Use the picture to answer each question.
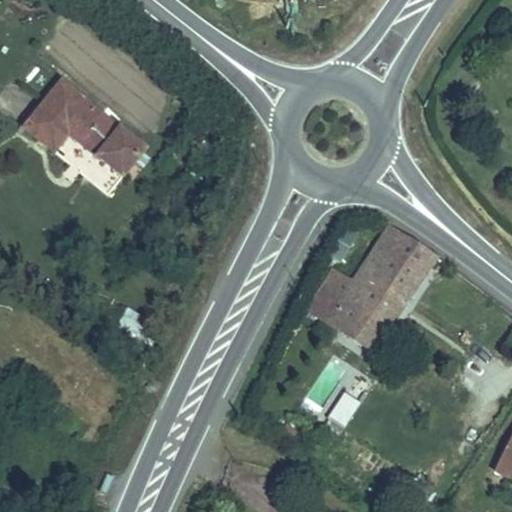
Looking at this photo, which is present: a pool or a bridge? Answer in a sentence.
Visible in the photo is a pool.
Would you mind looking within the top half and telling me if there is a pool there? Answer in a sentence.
No, there is no pool within the top half.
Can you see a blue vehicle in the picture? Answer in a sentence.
No, there is no blue vehicle in the image.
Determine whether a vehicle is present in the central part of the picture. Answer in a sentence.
No, no vehicle appears in the central part of the picture.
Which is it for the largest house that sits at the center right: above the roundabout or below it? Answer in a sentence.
Looking at the scene, the largest house that sits at the center right is located below the roundabout.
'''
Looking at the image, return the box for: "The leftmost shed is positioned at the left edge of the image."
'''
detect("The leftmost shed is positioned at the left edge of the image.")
[0,84,34,118]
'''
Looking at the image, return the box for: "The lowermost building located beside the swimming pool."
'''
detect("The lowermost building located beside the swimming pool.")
[329,392,361,428]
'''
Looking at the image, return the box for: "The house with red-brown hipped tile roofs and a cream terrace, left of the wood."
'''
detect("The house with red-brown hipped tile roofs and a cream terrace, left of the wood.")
[20,75,151,198]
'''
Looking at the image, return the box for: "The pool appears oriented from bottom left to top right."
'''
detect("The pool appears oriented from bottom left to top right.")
[302,356,348,414]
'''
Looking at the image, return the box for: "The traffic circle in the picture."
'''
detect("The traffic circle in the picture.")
[268,61,401,206]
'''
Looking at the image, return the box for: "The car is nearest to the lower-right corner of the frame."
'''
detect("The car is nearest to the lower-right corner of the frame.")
[466,426,478,443]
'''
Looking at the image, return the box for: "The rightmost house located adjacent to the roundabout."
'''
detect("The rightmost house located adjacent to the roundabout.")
[310,225,438,350]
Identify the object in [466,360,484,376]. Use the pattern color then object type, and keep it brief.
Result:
white car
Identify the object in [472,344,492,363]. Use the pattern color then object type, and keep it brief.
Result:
gray car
